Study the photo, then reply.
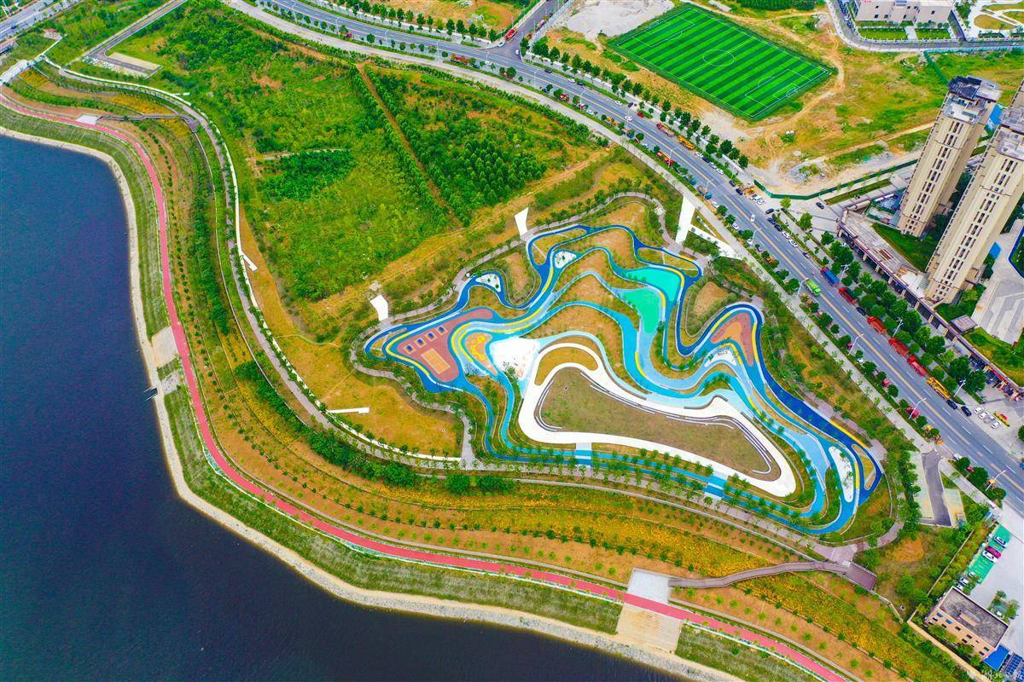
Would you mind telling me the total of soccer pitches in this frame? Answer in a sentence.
The picture shows just 1 soccer pitch.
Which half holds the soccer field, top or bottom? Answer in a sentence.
The soccer field is in the top half of the image.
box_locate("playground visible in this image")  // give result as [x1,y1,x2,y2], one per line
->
[357,224,885,535]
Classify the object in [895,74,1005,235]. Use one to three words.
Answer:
building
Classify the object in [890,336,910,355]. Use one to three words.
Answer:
vehicle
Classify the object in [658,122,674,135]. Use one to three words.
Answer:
vehicle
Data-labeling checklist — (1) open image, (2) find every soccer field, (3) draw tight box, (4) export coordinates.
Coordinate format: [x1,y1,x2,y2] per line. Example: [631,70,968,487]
[608,2,839,121]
